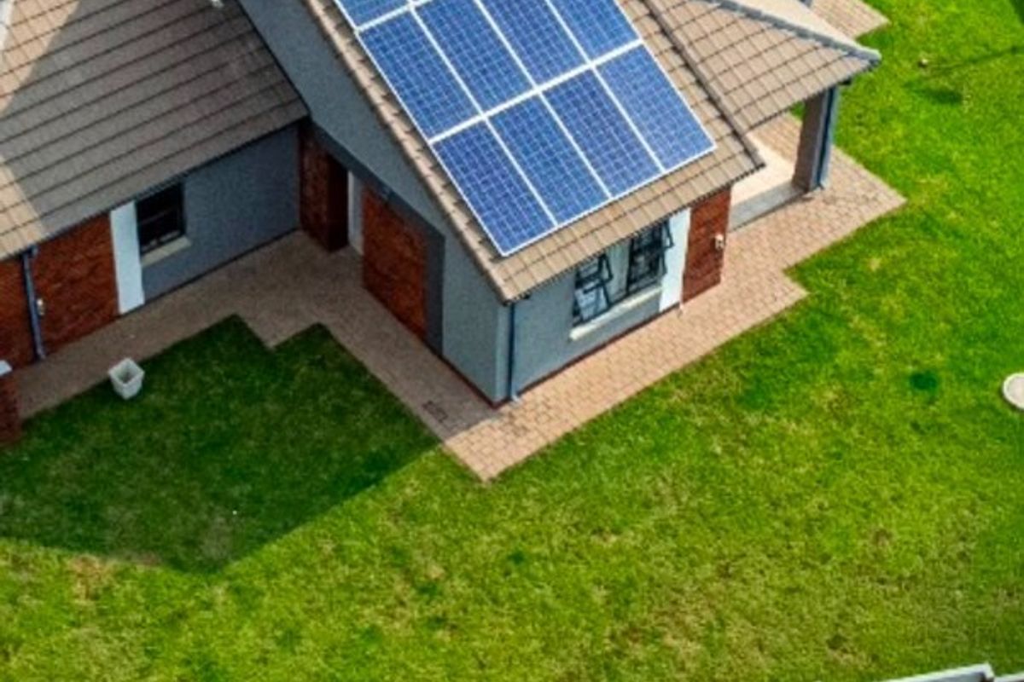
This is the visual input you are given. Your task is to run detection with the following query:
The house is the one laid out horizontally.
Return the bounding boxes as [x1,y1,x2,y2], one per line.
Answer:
[0,0,887,409]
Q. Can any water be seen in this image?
No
